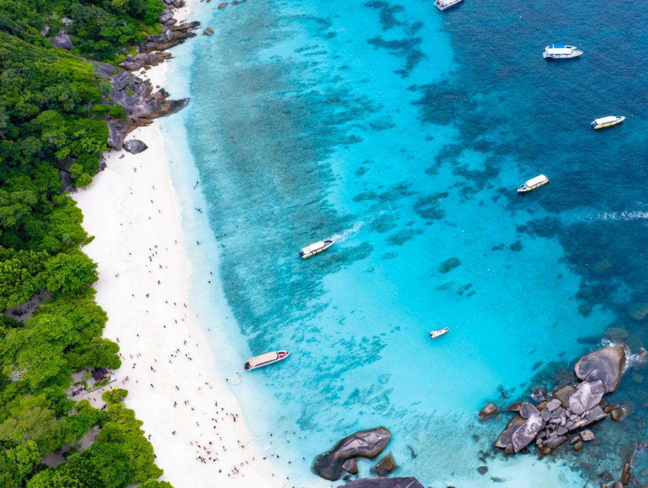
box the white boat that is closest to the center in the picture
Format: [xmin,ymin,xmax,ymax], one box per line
[297,240,333,261]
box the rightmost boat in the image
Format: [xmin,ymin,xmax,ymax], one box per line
[587,114,625,130]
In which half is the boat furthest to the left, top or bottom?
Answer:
bottom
